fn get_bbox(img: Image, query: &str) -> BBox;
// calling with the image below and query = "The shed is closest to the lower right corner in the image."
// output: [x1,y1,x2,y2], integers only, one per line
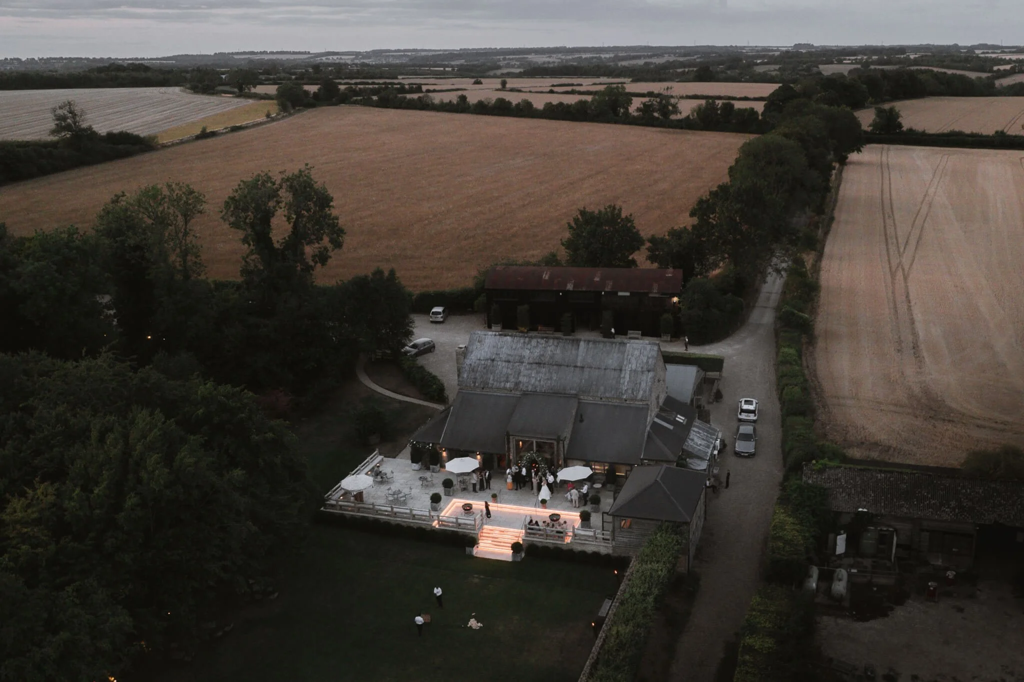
[796,462,1024,550]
